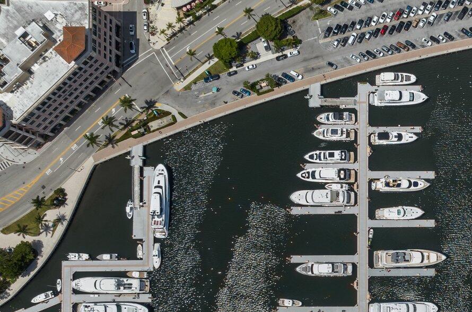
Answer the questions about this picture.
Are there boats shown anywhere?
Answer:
Yes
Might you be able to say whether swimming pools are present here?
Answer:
No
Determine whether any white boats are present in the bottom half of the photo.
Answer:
Yes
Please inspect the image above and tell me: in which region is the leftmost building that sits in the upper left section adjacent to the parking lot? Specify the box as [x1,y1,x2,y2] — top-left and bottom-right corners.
[0,0,122,136]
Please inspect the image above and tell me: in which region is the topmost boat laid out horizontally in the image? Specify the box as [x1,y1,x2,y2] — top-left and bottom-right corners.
[375,71,416,86]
